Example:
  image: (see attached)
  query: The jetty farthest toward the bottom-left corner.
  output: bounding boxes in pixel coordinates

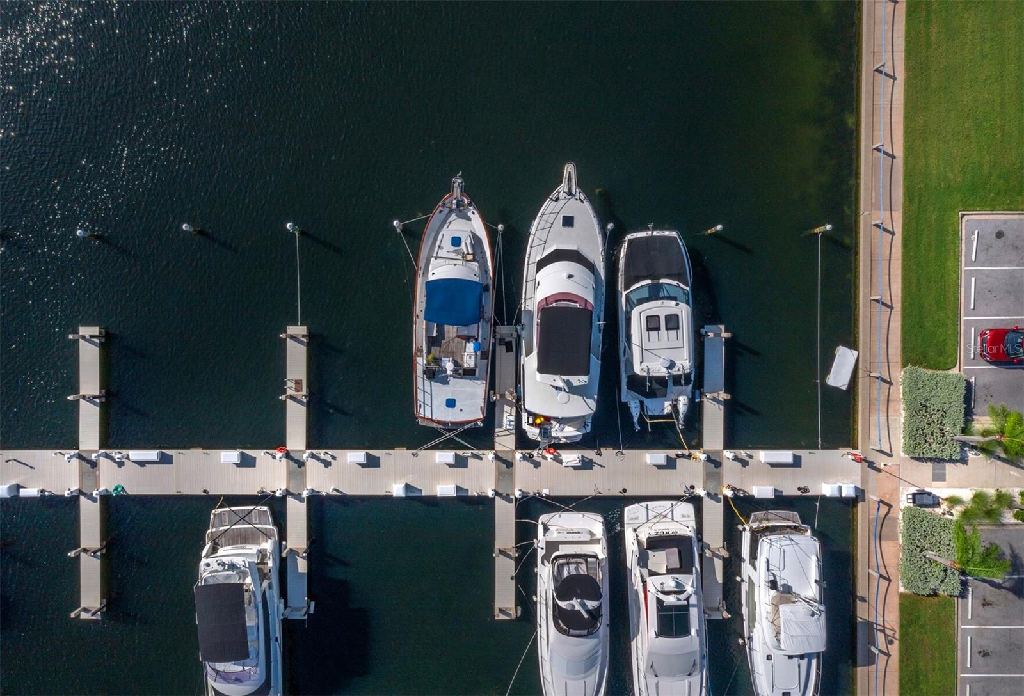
[79,496,105,619]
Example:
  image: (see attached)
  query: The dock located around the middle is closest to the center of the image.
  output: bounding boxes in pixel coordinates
[495,325,515,450]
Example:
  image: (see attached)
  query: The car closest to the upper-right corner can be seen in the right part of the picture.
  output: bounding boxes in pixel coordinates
[976,324,1024,366]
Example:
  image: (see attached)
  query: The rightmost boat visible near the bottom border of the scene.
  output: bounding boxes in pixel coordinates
[740,510,827,696]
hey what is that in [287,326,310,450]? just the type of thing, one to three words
pier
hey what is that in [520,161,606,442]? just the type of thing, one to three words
boat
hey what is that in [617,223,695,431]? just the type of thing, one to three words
boat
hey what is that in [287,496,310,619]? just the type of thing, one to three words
pier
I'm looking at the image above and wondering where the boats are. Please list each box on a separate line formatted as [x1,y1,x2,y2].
[740,510,827,696]
[193,505,285,696]
[621,499,709,696]
[413,171,494,429]
[536,511,610,696]
[520,161,606,442]
[617,223,695,431]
